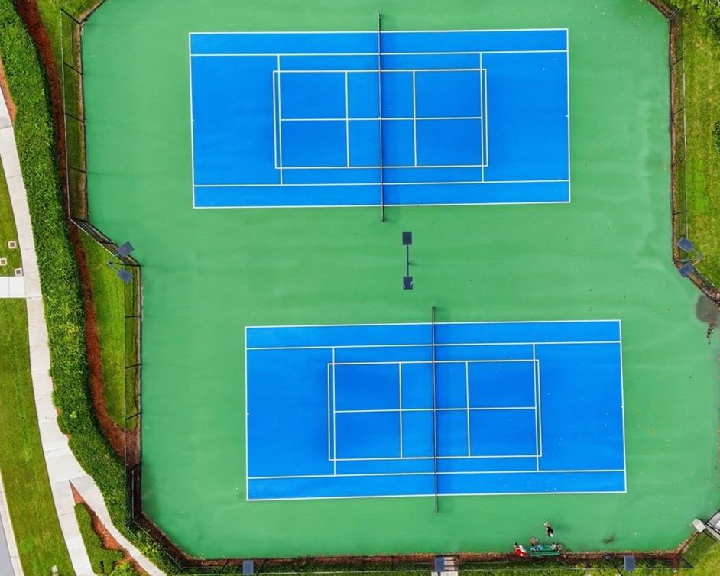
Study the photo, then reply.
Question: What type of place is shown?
sports ground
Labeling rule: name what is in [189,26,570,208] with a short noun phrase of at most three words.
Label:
tennis court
